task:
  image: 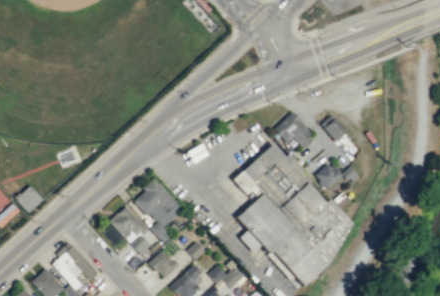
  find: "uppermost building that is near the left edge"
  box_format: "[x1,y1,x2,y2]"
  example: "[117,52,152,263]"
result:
[16,186,43,212]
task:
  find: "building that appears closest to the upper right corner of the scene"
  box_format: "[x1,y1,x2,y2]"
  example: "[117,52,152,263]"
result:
[320,113,344,140]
